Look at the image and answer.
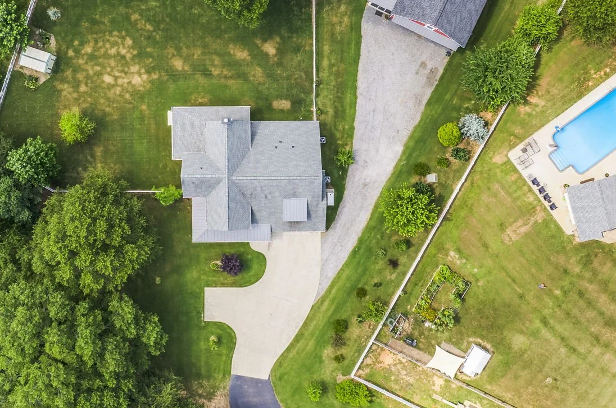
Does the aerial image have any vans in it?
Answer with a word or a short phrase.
No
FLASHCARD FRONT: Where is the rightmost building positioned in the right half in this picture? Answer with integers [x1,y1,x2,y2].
[559,175,616,242]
